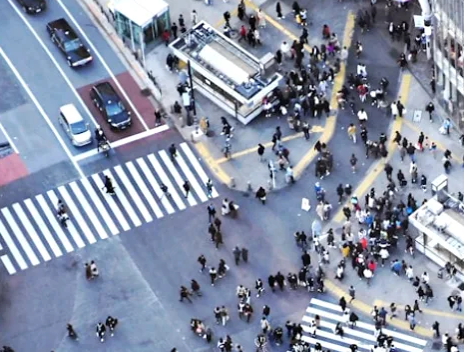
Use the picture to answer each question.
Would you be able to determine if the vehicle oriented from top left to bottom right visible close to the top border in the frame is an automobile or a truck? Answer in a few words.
automobile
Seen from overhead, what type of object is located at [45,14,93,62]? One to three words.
car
